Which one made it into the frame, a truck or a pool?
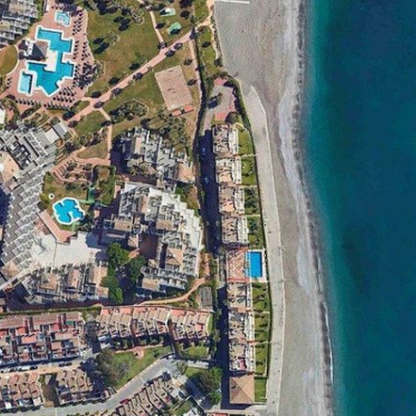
pool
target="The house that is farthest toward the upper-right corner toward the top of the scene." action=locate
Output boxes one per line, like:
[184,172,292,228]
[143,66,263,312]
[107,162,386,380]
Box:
[213,125,239,154]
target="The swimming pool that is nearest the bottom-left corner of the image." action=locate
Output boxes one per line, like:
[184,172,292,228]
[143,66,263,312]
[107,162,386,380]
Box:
[53,198,84,224]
